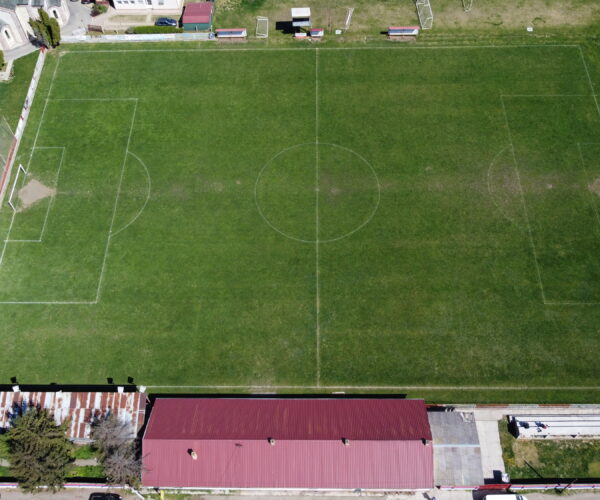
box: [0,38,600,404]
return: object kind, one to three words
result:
soccer field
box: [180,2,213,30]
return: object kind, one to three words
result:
shed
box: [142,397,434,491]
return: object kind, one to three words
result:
building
